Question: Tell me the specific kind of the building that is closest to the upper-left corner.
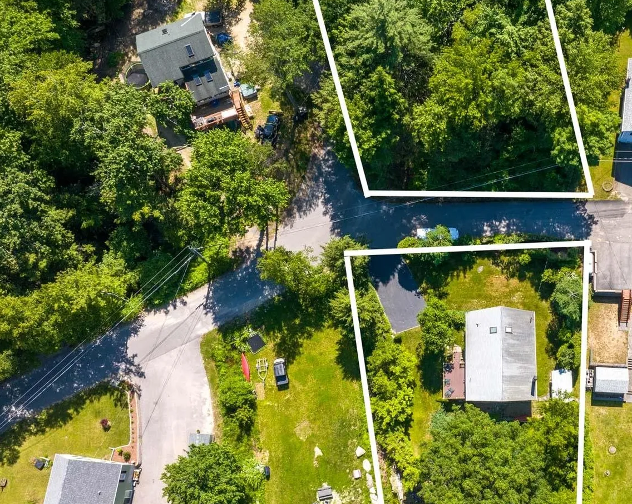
residential house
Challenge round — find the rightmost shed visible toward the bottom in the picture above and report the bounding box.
[593,366,629,399]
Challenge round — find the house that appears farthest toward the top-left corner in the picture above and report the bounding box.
[136,13,253,133]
